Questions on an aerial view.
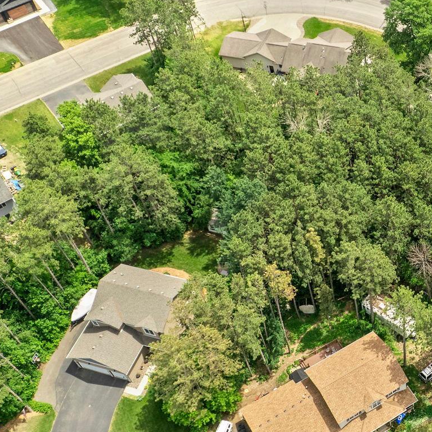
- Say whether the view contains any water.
No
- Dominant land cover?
trees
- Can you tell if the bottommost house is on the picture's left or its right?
right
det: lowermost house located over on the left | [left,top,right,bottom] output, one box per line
[67,267,176,380]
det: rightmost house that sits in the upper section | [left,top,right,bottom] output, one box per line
[224,28,354,87]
